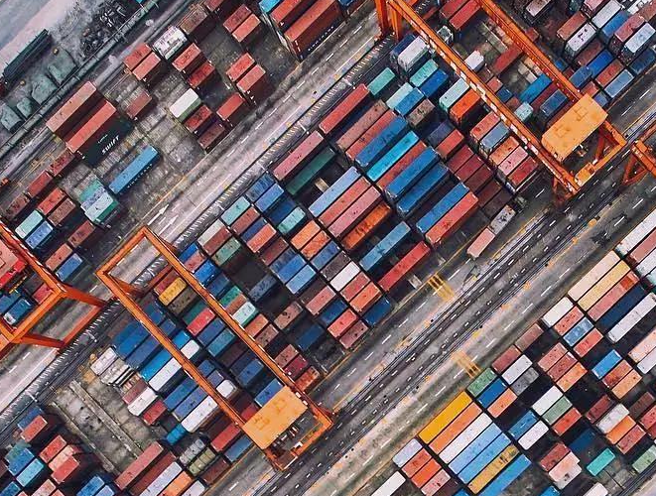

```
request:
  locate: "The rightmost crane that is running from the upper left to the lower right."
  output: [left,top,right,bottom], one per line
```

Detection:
[385,0,628,217]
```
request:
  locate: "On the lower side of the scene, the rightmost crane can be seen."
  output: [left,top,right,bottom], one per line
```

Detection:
[93,225,341,474]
